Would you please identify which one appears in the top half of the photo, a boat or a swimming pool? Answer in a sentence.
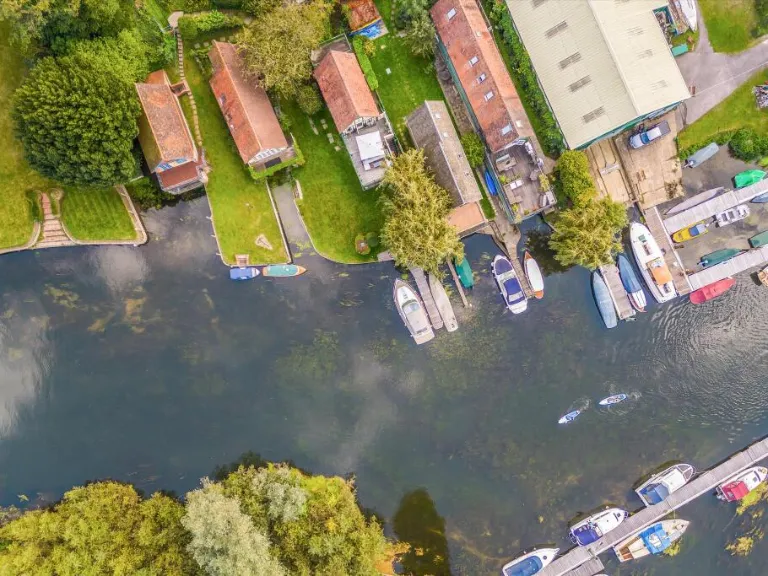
It is a boat that can be seen in the top half of the photo.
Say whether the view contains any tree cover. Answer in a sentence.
Yes, there is tree cover in the image.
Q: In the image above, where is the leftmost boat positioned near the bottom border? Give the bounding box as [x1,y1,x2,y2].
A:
[503,547,569,576]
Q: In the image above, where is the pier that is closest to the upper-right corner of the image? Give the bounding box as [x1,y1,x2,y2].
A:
[731,174,768,203]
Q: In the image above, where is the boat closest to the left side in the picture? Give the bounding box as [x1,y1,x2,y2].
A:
[230,263,260,279]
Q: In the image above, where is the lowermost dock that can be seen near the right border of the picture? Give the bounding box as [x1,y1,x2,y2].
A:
[541,433,768,576]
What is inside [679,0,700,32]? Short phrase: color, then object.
white boat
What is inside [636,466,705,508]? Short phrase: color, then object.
white boat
